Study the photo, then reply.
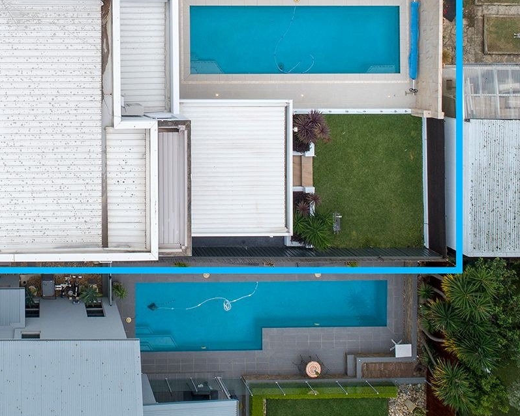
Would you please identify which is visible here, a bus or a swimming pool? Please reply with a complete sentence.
There is a swimming pool in the scene.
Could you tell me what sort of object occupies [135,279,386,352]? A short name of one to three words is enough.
swimming pool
